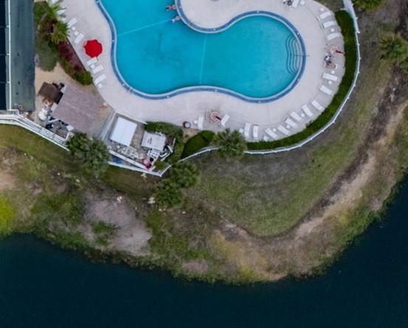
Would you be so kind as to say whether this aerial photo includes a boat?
No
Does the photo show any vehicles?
No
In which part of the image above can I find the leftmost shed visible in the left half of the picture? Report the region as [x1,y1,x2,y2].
[36,81,60,102]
